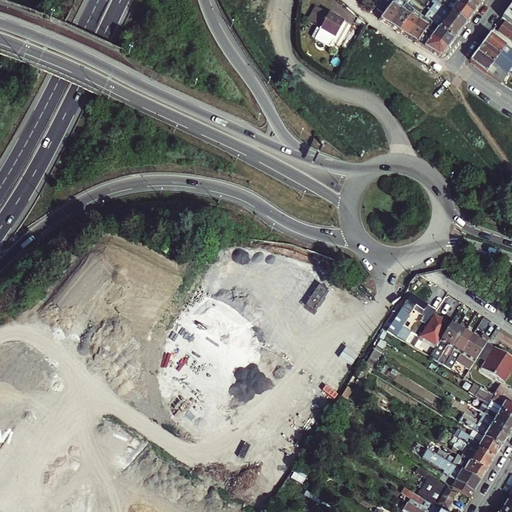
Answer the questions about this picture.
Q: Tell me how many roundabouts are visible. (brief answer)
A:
one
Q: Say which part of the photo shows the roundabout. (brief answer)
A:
right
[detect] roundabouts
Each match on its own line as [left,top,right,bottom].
[330,151,463,271]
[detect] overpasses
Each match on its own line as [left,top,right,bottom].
[0,0,342,208]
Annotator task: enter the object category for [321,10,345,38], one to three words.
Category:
house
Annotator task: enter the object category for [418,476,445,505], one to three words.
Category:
building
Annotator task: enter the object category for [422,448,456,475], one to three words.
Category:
shed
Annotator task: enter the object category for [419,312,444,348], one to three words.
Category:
house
